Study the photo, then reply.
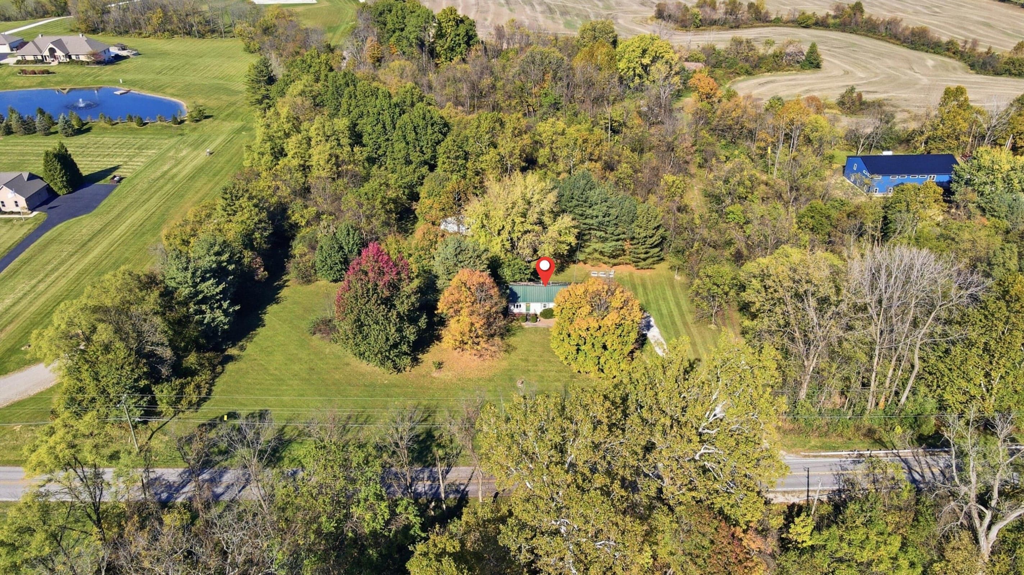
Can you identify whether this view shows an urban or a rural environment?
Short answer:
rural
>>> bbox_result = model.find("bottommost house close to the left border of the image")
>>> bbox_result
[0,163,58,212]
